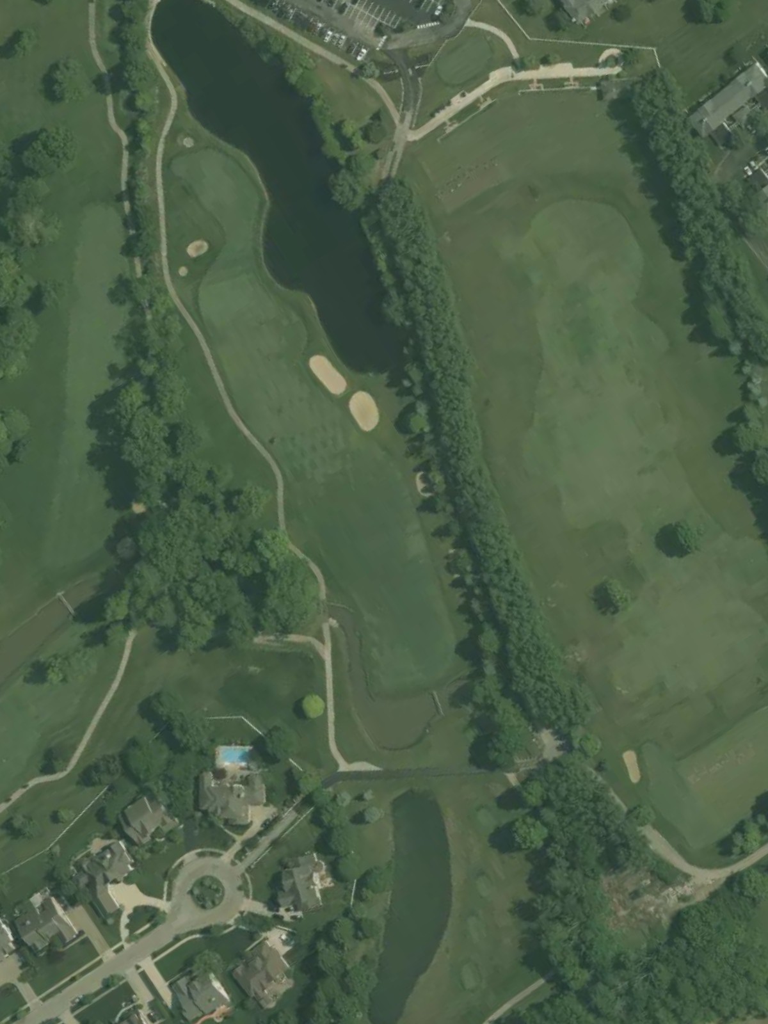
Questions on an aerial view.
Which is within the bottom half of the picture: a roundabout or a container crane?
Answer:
roundabout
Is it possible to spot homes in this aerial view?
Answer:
Yes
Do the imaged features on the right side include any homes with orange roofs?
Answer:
No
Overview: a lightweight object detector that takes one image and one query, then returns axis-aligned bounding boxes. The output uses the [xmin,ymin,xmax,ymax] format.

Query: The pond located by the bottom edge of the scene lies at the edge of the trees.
[373,791,451,1024]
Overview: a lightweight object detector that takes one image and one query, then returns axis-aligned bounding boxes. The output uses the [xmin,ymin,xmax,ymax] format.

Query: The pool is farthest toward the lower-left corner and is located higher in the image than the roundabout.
[220,747,248,765]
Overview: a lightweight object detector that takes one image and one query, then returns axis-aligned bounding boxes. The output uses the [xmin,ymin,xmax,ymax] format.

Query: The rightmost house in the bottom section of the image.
[276,855,328,914]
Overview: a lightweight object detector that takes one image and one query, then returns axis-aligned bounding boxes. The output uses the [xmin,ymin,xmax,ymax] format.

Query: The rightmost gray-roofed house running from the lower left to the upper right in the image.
[686,62,768,141]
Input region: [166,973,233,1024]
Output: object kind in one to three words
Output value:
house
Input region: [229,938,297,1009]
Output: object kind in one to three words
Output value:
house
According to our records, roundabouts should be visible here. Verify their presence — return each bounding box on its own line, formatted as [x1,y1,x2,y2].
[172,855,243,925]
